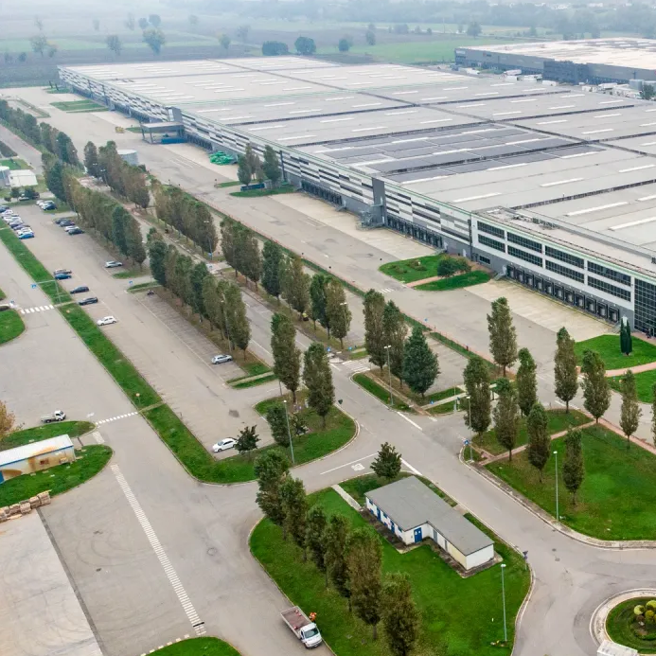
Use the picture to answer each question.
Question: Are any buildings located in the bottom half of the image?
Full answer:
Yes, a building shows up in the bottom half of the image.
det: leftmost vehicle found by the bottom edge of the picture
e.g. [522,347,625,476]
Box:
[283,605,316,639]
